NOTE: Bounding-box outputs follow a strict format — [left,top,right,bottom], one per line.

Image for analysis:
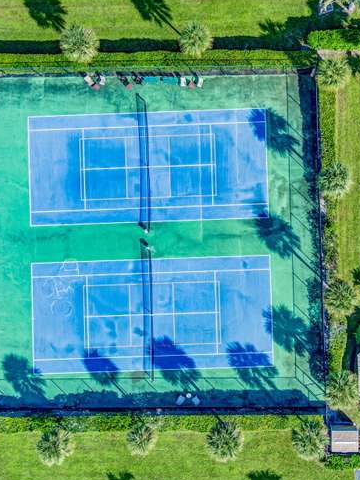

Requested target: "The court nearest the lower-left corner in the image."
[32,256,273,374]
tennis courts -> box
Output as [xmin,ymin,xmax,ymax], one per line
[28,109,269,226]
[32,256,273,374]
